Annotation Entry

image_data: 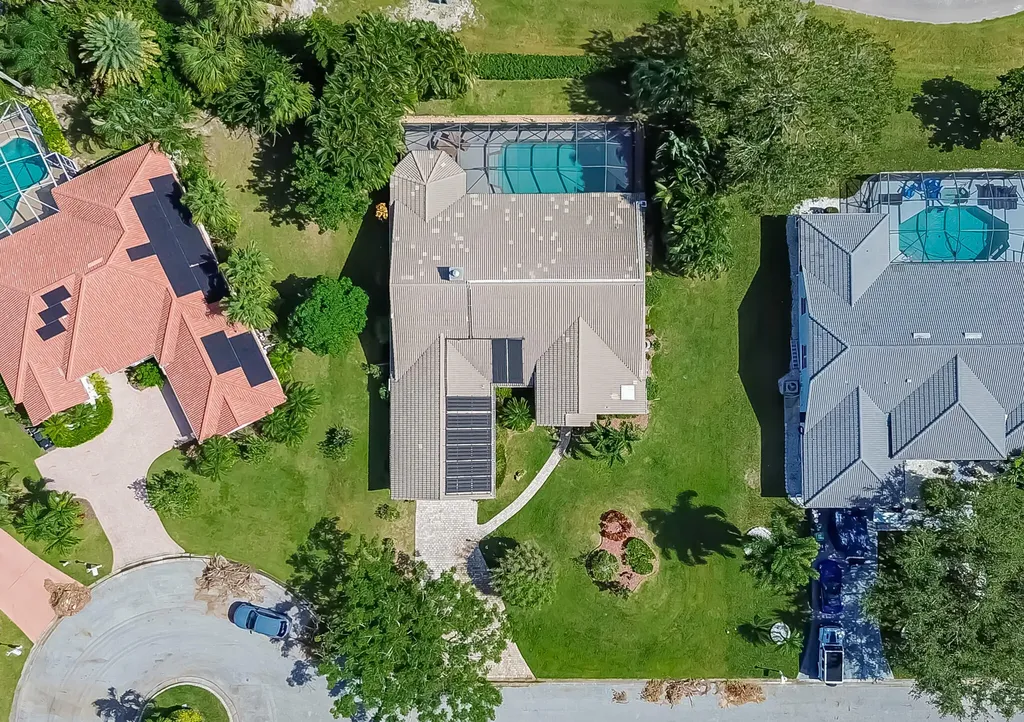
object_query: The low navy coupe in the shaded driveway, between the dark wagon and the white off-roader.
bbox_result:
[814,554,845,612]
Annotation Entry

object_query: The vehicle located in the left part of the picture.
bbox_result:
[229,599,293,640]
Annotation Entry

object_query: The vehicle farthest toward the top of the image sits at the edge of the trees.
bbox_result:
[835,509,871,560]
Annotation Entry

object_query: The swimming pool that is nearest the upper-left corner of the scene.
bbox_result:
[0,134,49,234]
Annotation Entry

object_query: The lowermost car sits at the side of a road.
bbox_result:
[810,621,843,686]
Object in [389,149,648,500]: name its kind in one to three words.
house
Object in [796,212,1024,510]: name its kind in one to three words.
house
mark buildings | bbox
[796,212,1024,510]
[0,142,288,443]
[389,149,648,500]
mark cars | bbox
[814,554,845,612]
[835,509,871,560]
[229,599,293,640]
[810,621,843,686]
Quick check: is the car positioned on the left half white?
No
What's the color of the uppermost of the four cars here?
black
